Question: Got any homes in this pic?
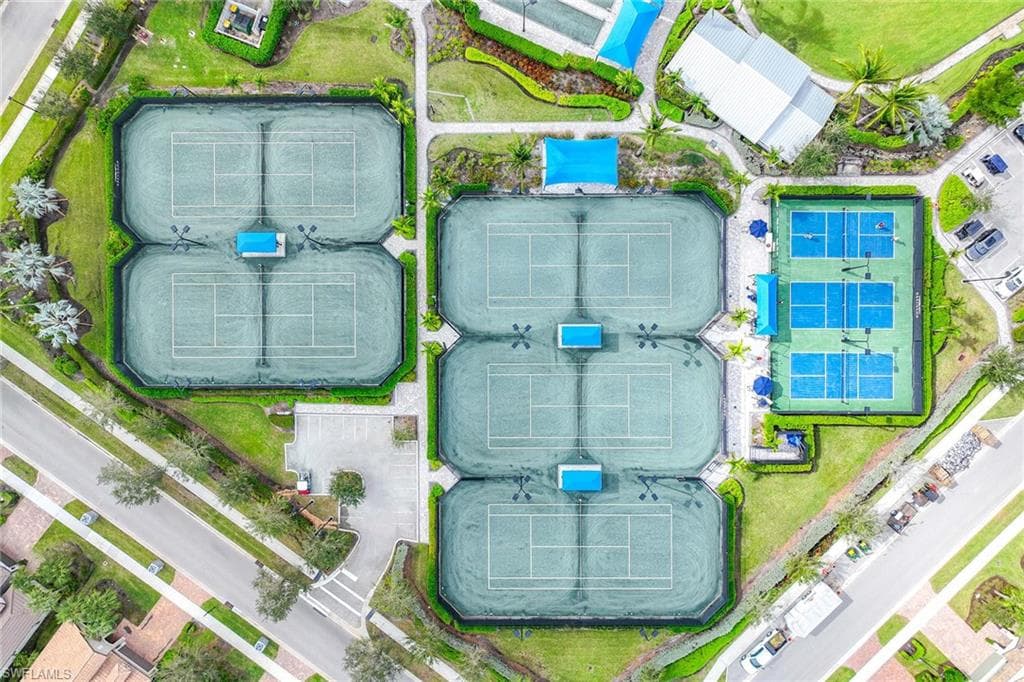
Yes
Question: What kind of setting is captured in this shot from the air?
sports ground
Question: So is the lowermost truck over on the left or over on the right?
right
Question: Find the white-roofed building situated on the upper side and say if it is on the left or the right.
right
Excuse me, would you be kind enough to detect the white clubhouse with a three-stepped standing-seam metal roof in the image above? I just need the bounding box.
[665,10,837,165]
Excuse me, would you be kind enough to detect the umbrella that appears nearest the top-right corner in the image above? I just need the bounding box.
[747,219,767,239]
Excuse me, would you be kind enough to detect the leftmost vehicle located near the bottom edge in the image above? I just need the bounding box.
[745,632,791,674]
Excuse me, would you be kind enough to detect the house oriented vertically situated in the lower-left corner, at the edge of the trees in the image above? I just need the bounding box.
[0,552,52,677]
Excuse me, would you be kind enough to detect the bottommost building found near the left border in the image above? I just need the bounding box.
[18,622,158,682]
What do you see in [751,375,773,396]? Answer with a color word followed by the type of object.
blue umbrella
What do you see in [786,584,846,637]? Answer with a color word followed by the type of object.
white trailer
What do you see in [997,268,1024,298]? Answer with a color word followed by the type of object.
white car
